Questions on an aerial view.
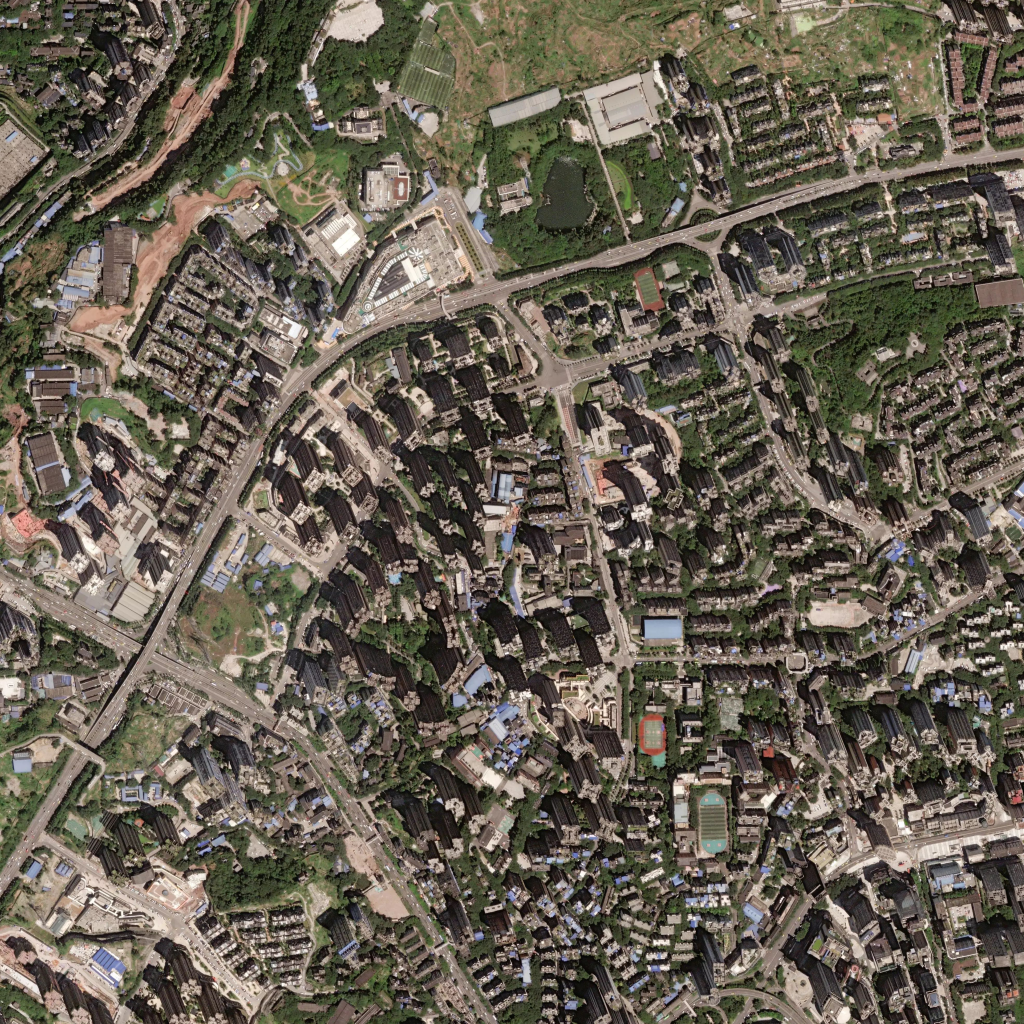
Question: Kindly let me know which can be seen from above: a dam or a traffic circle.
traffic circle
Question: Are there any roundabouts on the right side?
Yes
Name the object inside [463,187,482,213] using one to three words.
shed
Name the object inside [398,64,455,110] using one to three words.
soccer field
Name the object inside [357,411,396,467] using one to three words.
building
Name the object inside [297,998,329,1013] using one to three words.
house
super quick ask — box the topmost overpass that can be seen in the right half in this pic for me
[595,185,814,269]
